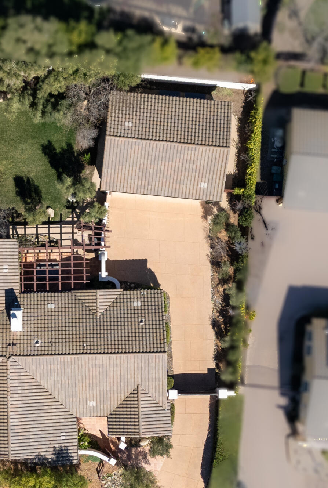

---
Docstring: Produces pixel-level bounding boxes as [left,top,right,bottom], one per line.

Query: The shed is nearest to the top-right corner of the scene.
[226,0,260,42]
